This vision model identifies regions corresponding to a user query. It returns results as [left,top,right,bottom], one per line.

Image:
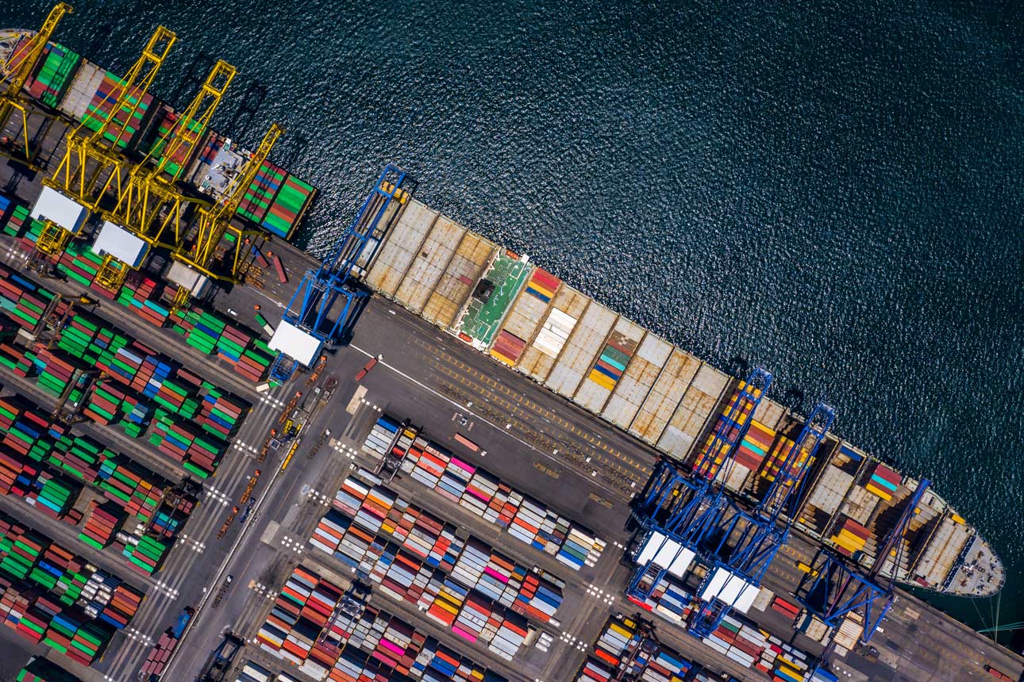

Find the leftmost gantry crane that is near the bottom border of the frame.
[199,617,262,682]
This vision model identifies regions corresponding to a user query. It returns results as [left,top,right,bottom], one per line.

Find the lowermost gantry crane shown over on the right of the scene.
[608,618,654,682]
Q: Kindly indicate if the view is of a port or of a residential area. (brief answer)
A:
port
